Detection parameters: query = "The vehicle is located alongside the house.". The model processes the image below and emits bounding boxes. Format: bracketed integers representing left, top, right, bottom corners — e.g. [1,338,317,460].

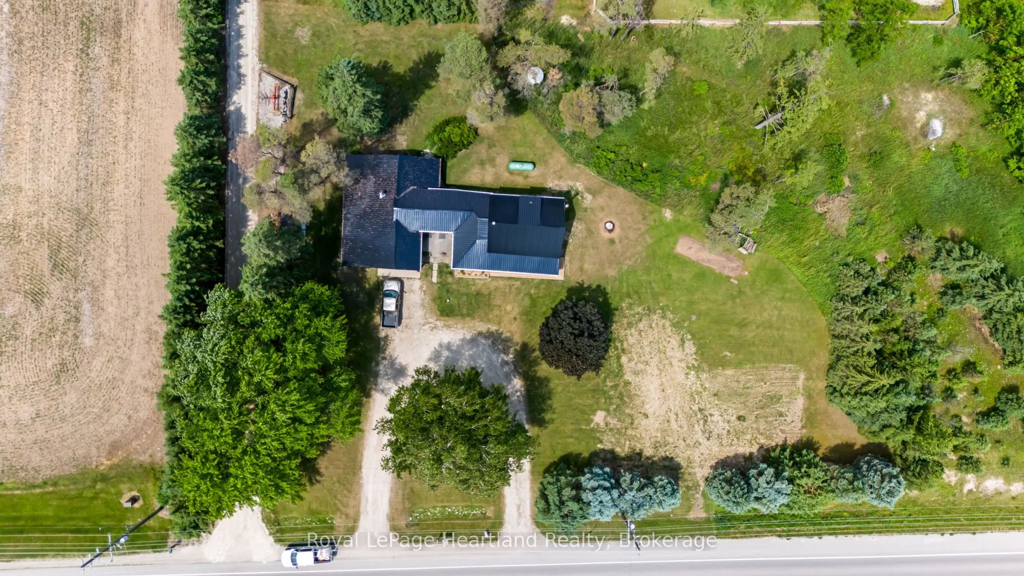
[382,278,403,329]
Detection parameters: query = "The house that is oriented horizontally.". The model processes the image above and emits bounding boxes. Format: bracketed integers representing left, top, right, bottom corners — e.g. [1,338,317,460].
[341,154,565,277]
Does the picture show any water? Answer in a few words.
No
